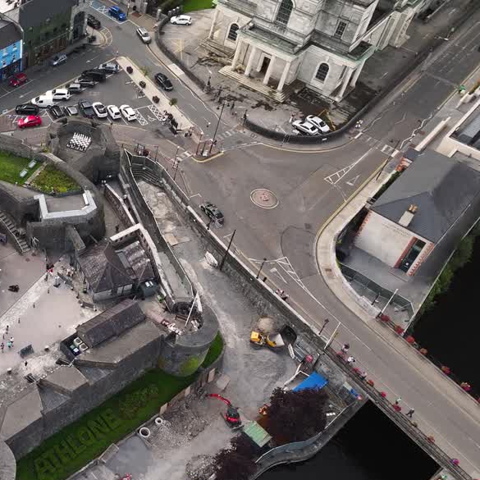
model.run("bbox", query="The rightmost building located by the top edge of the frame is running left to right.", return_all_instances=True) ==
[203,0,440,102]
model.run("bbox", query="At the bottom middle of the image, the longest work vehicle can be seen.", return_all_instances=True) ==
[207,386,246,427]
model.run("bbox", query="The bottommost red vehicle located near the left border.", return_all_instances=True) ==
[16,114,43,128]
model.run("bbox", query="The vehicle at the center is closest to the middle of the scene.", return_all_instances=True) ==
[198,202,227,228]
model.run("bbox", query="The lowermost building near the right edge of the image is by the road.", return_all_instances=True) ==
[351,148,480,276]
